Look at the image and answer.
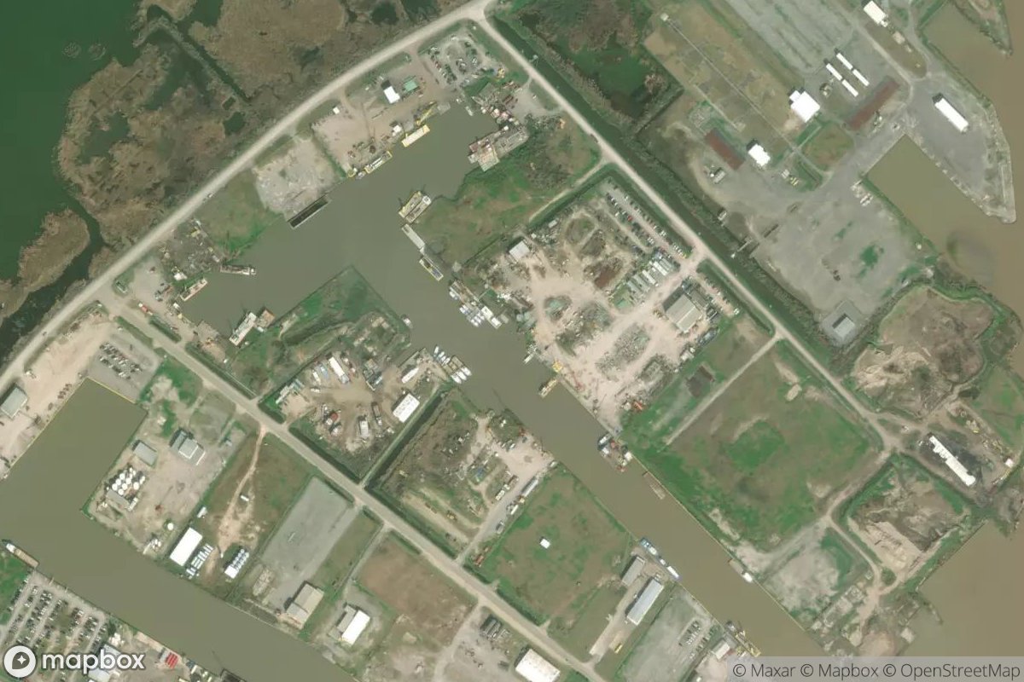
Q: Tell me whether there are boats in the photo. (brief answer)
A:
Yes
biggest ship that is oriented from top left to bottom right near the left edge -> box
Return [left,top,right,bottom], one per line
[5,543,38,568]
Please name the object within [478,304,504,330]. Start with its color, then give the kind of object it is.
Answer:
white boat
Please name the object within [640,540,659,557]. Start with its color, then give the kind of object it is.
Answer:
white ship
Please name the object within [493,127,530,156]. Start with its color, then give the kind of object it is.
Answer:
gray ship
